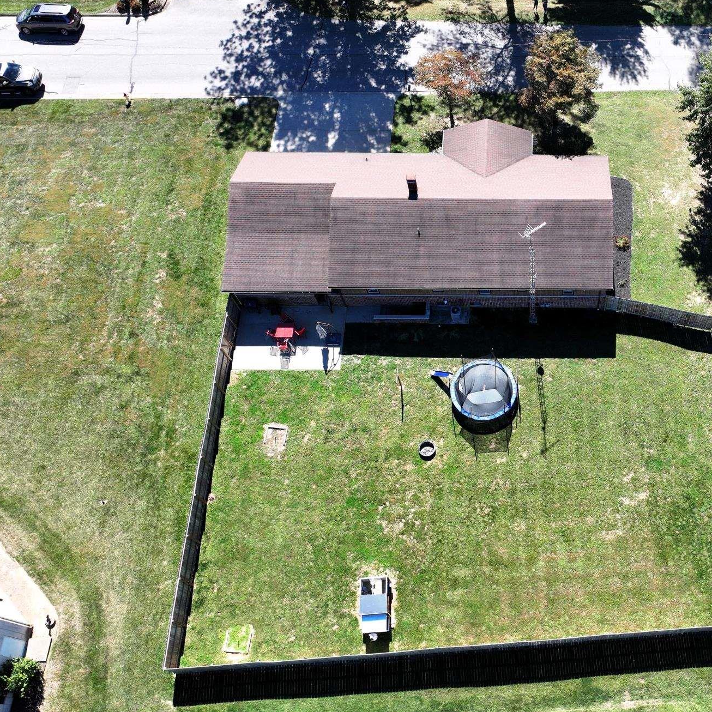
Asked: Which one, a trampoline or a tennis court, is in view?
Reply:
trampoline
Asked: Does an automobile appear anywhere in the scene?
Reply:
Yes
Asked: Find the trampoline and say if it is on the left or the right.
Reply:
right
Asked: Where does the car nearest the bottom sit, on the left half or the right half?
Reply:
left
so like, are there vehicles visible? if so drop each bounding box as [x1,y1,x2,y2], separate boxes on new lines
[0,63,50,97]
[11,7,88,43]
